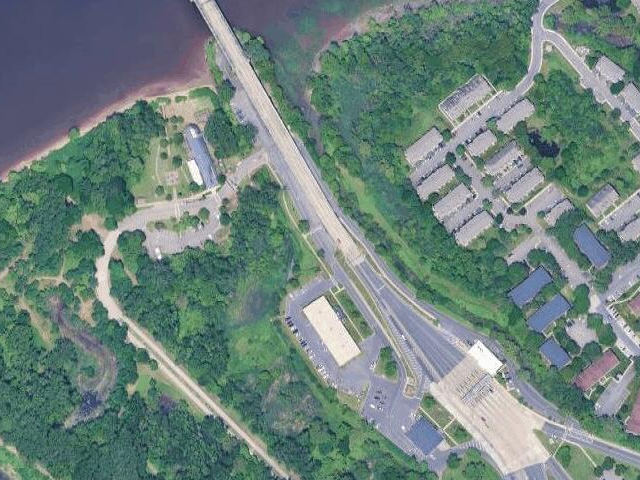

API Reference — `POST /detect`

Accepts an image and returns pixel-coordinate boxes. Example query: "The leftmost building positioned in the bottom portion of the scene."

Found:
[303,296,361,367]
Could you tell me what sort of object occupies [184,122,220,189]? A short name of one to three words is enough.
building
